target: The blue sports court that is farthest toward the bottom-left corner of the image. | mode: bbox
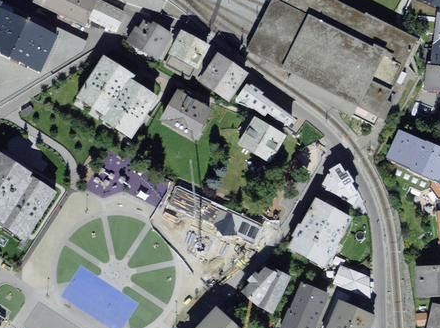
[62,266,138,328]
